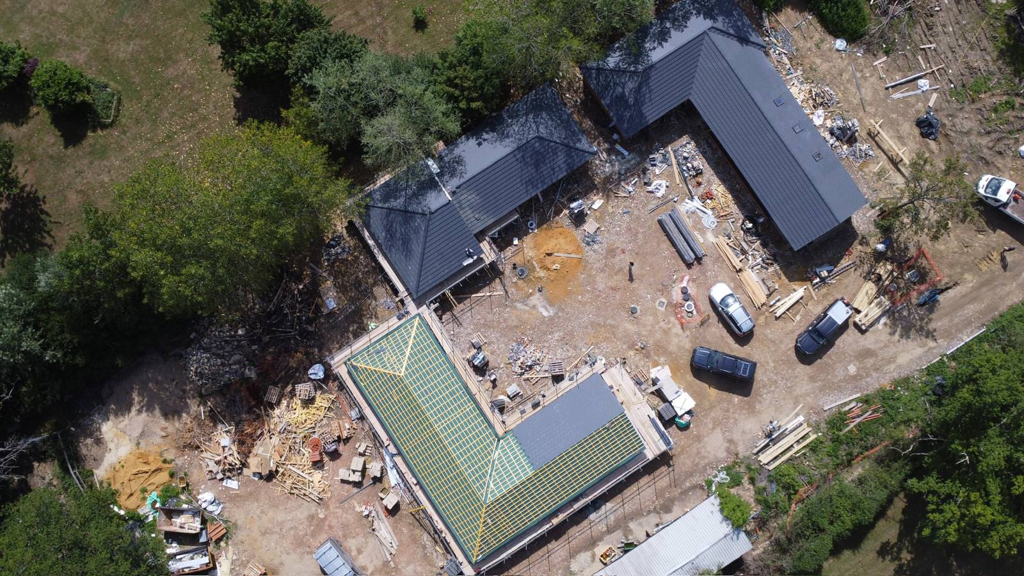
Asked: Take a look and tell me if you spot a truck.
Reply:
Yes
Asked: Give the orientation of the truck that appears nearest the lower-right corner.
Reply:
at an angle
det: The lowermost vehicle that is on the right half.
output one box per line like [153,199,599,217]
[688,348,759,384]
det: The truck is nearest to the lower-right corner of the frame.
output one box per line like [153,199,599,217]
[794,295,858,353]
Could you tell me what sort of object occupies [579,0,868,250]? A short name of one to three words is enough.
barn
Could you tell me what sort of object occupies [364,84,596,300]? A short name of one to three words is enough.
house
